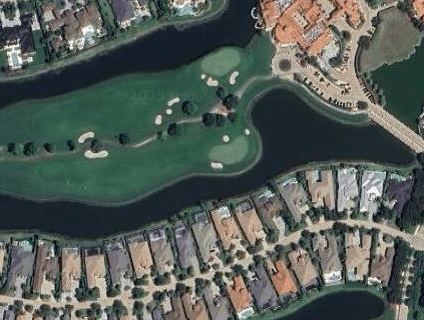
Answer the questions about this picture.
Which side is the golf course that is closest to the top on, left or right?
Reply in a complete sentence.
It is on the left.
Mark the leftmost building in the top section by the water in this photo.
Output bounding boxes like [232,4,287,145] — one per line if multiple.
[0,12,36,68]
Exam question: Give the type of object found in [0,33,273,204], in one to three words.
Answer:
golf course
